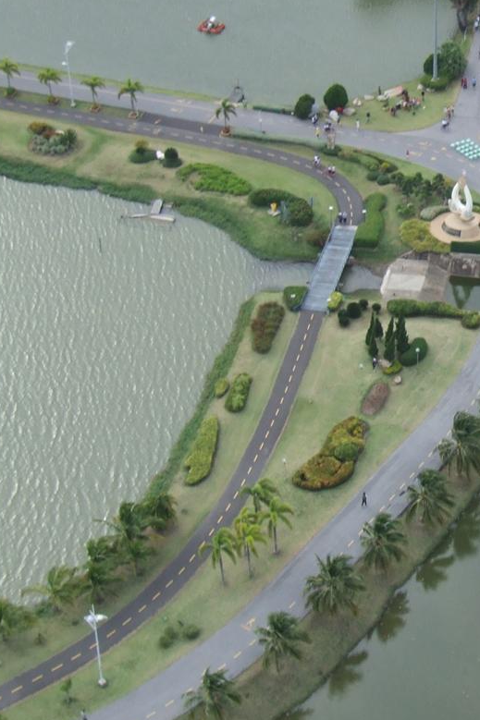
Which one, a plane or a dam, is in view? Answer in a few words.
dam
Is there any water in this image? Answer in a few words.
Yes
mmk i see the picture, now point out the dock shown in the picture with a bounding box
[119,198,174,217]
